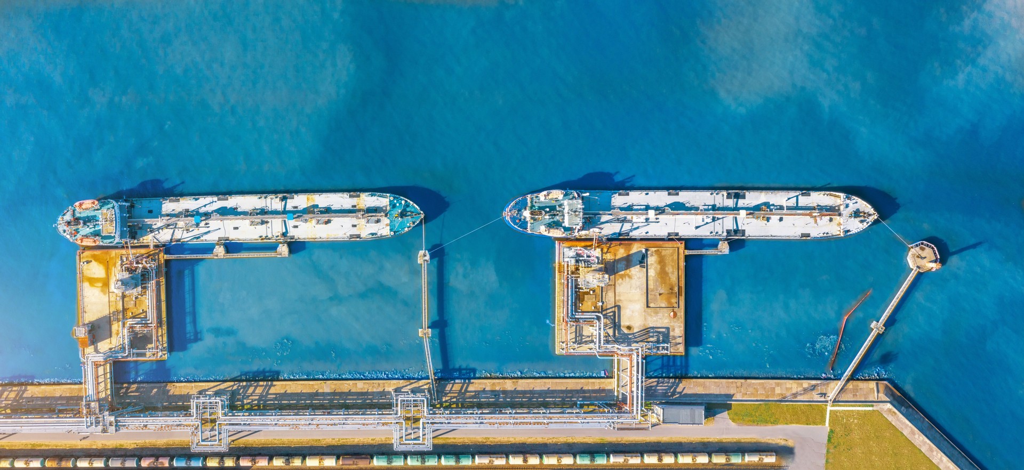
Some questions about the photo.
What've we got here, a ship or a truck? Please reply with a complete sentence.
There is a ship in the scene.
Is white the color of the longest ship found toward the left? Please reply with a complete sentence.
Yes, the longest ship found toward the left appears white.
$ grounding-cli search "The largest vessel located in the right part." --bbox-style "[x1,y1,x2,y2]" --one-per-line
[502,191,879,240]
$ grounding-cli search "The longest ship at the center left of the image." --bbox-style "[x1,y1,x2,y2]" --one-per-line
[54,193,424,246]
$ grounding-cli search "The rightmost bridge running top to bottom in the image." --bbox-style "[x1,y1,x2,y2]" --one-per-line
[622,355,644,407]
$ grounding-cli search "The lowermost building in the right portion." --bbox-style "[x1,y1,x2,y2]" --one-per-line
[654,404,704,425]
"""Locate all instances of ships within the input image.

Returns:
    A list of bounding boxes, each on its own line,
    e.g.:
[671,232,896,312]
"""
[54,193,424,246]
[502,191,879,240]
